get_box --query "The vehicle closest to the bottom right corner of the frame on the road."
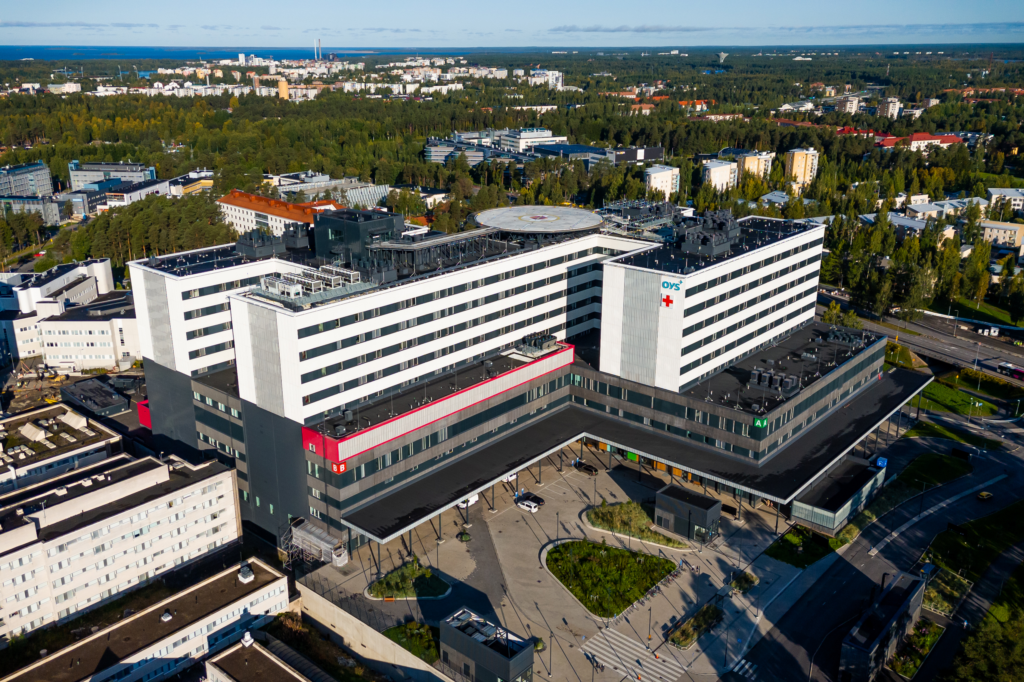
[974,489,996,501]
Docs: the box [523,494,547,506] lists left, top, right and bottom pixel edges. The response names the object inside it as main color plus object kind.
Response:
black vehicle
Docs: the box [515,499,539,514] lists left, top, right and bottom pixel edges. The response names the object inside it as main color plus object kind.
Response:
white car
